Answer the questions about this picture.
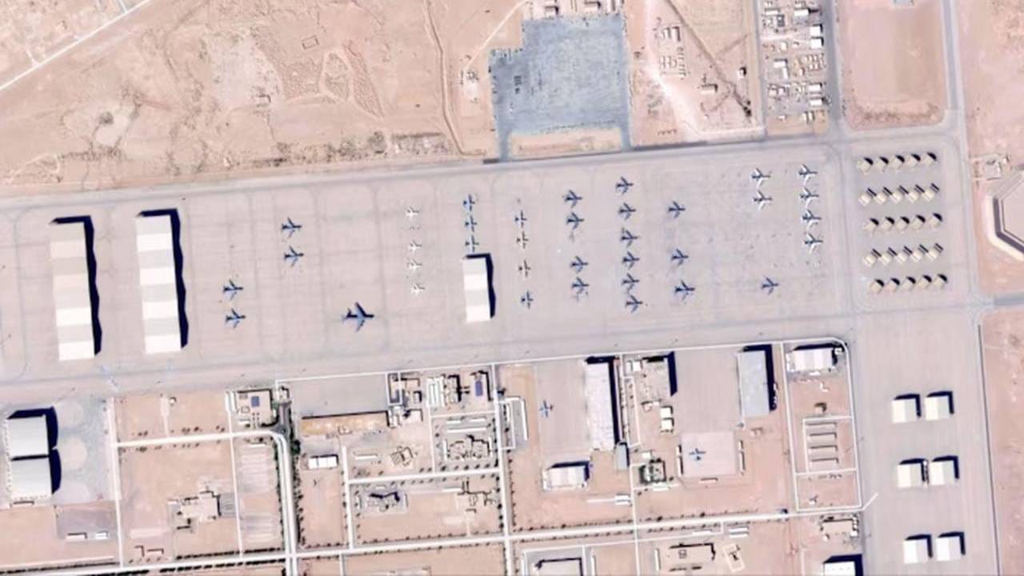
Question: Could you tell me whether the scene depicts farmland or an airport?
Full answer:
This image shows an airport.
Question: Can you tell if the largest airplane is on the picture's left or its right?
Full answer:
The largest airplane sits on the left side.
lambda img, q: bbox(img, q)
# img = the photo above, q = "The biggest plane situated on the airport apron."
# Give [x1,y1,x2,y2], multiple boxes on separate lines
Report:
[342,305,371,332]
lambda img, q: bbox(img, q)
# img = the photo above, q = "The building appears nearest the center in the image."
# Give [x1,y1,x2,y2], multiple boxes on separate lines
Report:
[462,257,491,322]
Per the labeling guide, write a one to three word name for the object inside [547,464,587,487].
hangar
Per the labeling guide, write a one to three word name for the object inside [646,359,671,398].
building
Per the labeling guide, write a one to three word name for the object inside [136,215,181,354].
hangar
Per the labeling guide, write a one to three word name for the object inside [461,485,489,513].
house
